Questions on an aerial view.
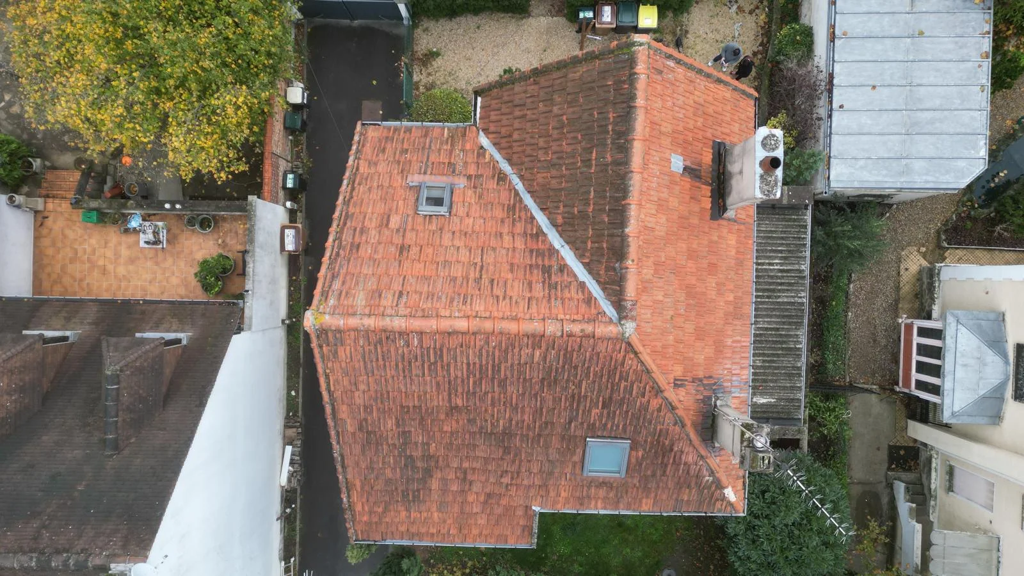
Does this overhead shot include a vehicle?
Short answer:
No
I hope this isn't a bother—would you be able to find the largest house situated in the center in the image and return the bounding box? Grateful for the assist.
[304,22,788,554]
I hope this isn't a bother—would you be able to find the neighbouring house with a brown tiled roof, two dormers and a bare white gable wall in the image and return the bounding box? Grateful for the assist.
[0,292,285,576]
